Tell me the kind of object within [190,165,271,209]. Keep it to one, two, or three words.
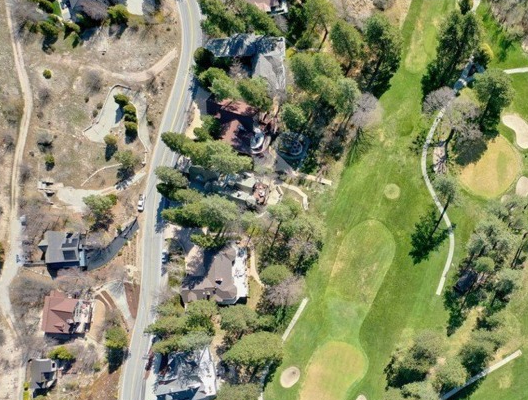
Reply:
house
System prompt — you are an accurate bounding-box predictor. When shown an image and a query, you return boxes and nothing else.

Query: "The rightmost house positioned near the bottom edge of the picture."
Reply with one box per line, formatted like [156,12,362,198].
[154,346,219,400]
